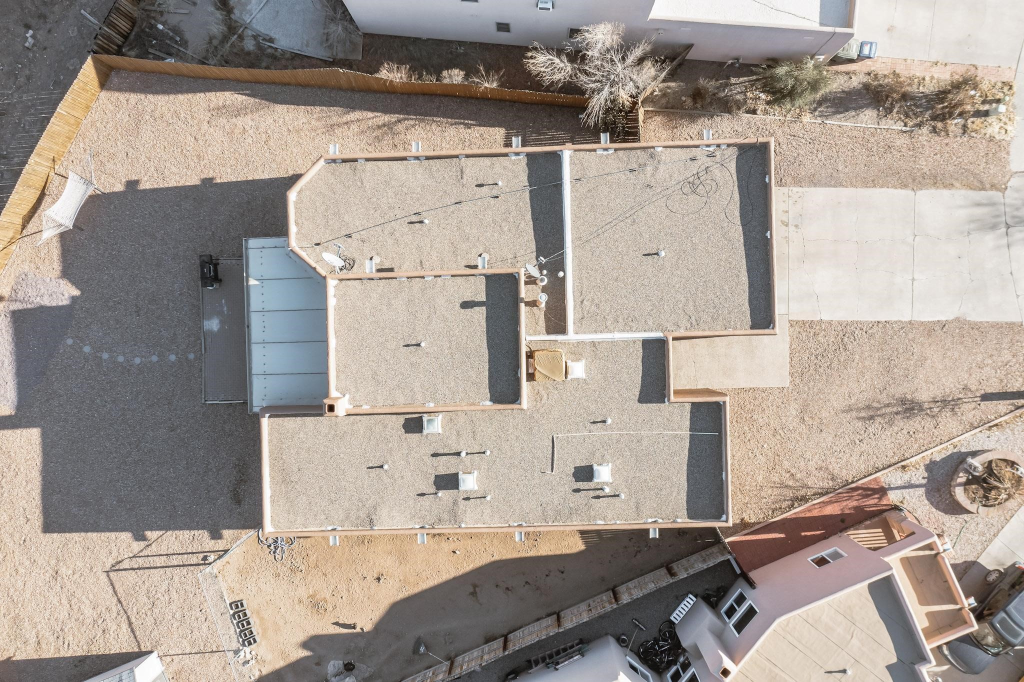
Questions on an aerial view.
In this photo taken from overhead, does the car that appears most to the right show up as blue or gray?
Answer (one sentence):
The car that appears most to the right looks gray in the image.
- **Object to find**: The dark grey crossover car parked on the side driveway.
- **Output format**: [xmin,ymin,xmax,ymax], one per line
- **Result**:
[940,559,1024,670]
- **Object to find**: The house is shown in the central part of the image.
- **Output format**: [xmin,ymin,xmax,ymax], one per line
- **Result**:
[261,128,777,546]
